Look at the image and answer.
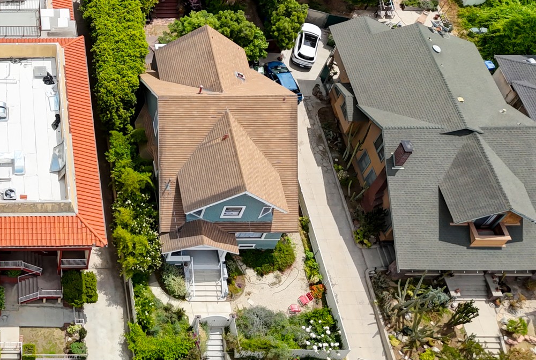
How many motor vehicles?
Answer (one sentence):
The number of motor vehicles here is 2.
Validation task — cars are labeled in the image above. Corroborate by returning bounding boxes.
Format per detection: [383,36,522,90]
[258,60,310,108]
[291,25,323,74]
